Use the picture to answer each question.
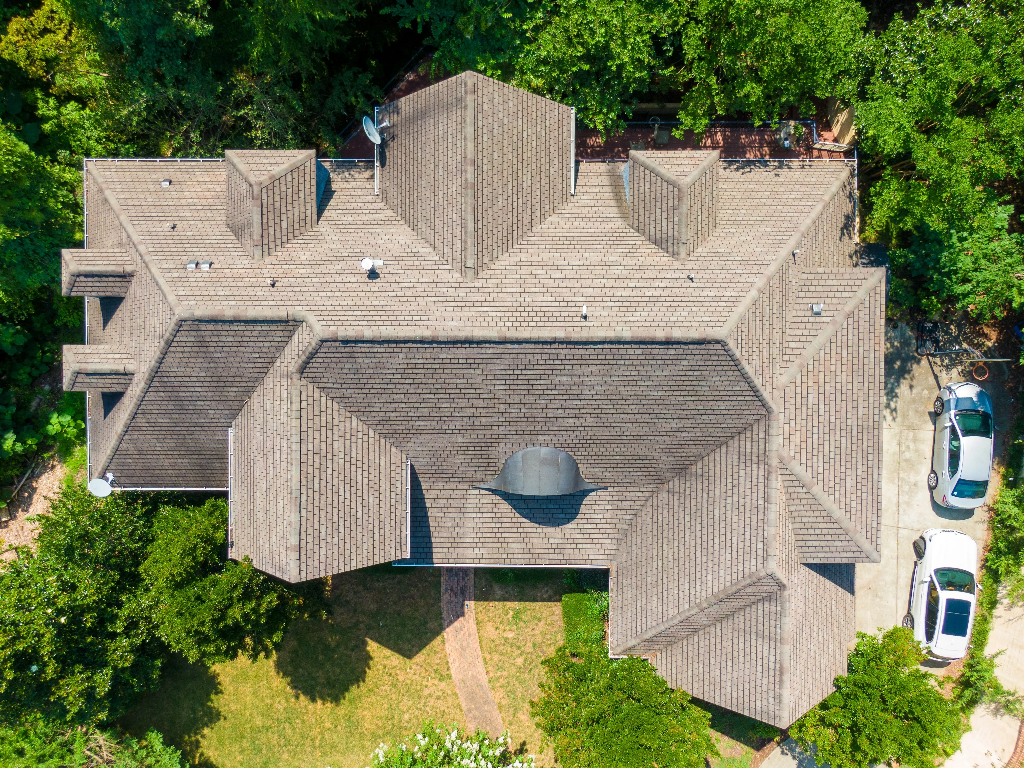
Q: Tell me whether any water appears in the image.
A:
No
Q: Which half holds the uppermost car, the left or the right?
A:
right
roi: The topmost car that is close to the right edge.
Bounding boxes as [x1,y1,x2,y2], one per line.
[928,380,1003,511]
